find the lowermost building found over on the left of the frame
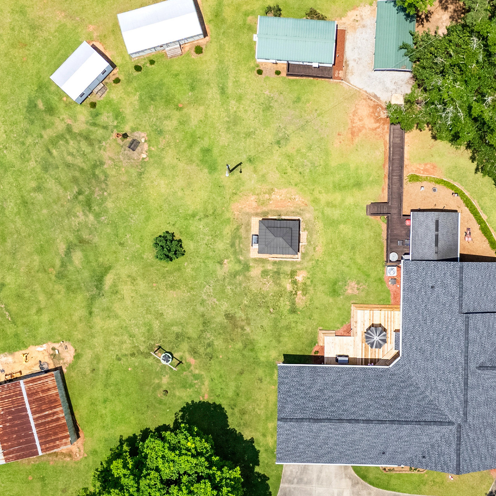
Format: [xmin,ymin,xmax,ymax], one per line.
[0,367,84,462]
